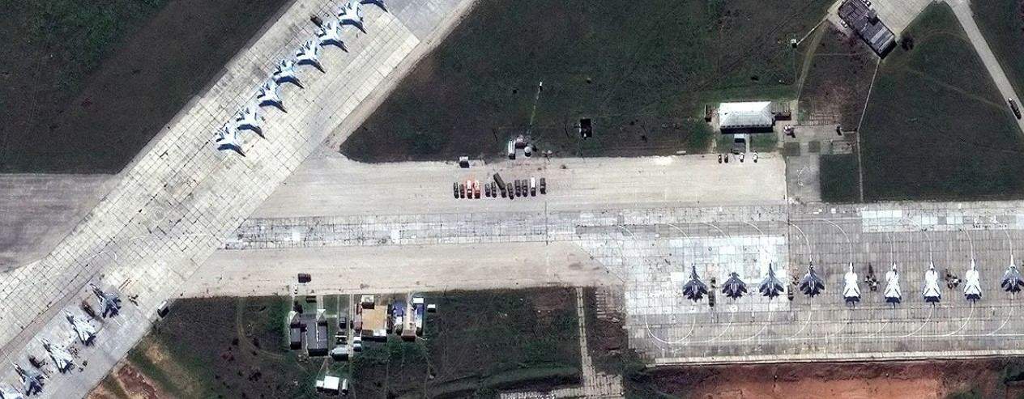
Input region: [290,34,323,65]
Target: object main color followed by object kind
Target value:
white airplane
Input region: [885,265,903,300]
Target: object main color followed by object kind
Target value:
white airplane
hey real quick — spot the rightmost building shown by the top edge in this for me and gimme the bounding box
[836,0,898,52]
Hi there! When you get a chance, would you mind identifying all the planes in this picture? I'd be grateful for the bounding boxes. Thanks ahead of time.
[799,258,825,294]
[211,118,243,149]
[885,265,903,300]
[90,284,120,318]
[290,34,323,65]
[230,100,263,130]
[314,14,345,44]
[843,263,861,299]
[12,363,42,396]
[721,261,747,298]
[65,312,95,346]
[270,50,301,81]
[923,263,941,300]
[253,74,285,106]
[38,337,68,371]
[331,0,364,25]
[758,261,784,299]
[1000,256,1024,293]
[964,260,983,297]
[681,264,707,300]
